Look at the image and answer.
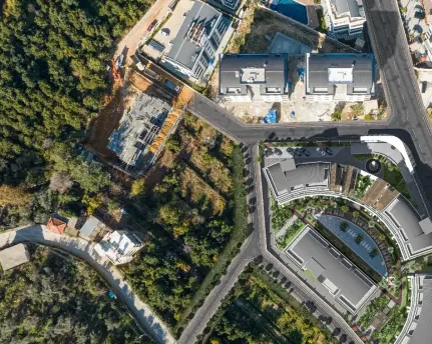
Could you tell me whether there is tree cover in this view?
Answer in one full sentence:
Yes, tree cover shows up in the scene.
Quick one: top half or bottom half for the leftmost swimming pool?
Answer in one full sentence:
The top half of the photo is where the leftmost swimming pool is.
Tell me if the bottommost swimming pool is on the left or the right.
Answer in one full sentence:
You can find the bottommost swimming pool on the right side of the picture.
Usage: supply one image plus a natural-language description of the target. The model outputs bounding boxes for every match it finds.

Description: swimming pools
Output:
[315,213,387,278]
[269,0,308,26]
